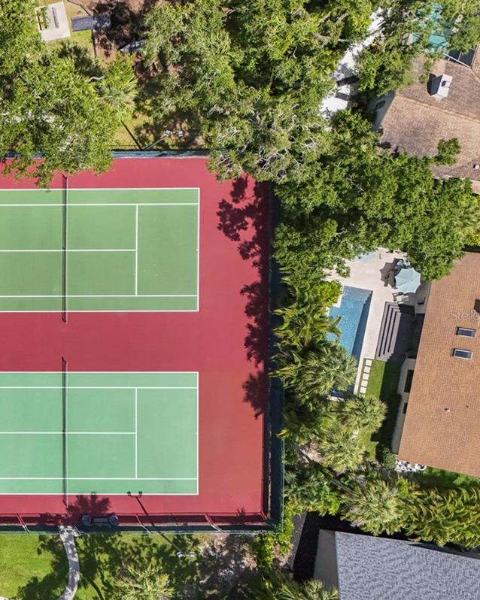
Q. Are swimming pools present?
Yes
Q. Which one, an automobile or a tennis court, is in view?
tennis court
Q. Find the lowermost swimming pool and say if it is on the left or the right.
right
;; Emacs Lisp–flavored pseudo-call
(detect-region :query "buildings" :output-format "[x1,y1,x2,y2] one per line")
[388,251,480,474]
[371,36,480,196]
[320,526,480,600]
